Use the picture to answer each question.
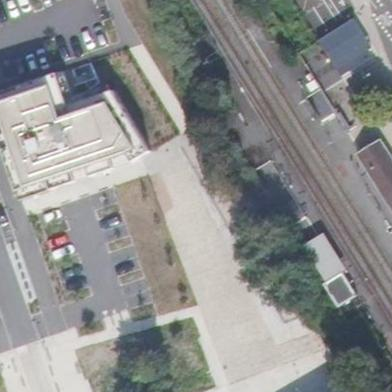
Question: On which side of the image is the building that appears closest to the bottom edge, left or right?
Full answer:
You can find the building that appears closest to the bottom edge on the right side of the picture.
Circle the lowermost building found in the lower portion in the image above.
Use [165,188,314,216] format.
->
[322,272,357,308]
